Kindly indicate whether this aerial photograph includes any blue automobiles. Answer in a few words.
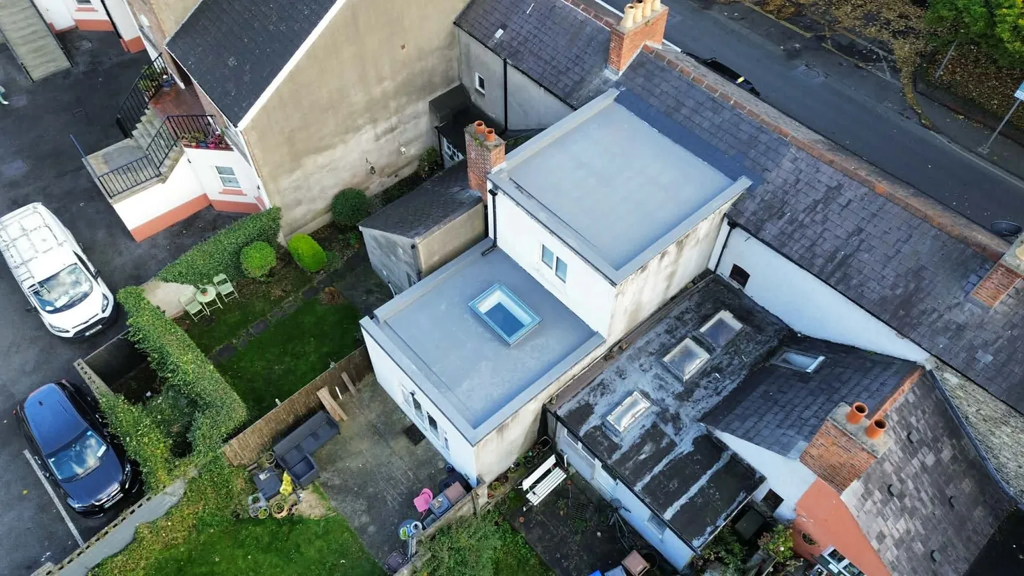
Yes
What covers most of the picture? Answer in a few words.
buildings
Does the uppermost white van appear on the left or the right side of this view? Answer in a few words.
left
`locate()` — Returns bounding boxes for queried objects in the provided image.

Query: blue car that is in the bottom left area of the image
[18,379,137,514]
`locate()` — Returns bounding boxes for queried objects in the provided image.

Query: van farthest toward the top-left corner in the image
[0,201,113,336]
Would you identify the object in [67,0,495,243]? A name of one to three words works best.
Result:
house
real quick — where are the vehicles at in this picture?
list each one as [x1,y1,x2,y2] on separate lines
[685,53,761,97]
[0,201,113,336]
[18,379,137,514]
